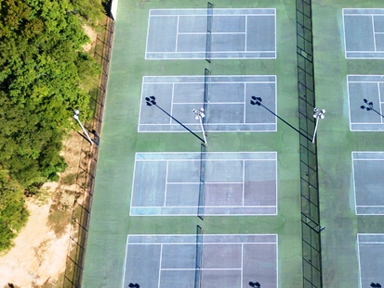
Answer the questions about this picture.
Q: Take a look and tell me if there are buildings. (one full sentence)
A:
No, the picture doesn't show any building.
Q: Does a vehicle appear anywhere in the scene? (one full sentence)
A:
No, there appears to be no vehicle in this shot.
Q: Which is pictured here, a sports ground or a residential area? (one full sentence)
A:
It's a sports ground.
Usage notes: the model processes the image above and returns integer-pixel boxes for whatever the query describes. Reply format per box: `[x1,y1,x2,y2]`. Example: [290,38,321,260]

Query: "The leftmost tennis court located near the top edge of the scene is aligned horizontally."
[145,9,276,59]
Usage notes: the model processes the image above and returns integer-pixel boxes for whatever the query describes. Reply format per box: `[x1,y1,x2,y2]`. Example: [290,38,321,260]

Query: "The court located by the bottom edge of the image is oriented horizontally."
[123,234,278,288]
